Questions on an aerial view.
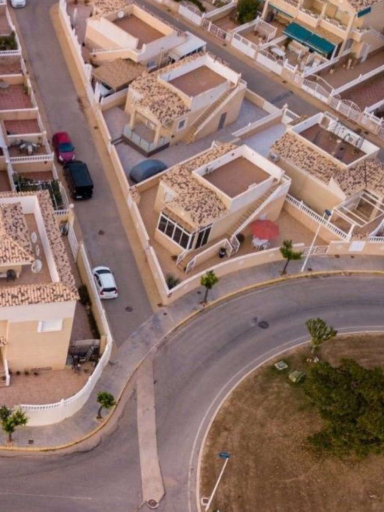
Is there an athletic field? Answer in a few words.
No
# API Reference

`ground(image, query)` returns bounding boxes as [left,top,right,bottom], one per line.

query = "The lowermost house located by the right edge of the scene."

[269,112,384,218]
